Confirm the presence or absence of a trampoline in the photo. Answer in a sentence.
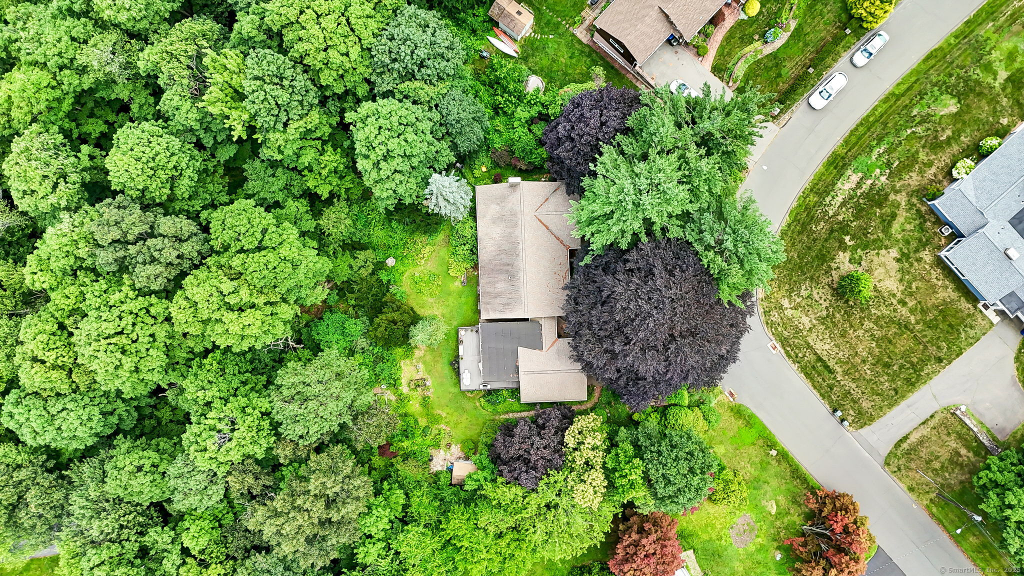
No, no trampoline is visible in the scene.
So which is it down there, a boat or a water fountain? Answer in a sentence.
This aerial view contains a boat.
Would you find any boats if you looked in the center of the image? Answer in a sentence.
No, there's no boat to be seen in the center of the image.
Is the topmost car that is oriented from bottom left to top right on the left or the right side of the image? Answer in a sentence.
The topmost car that is oriented from bottom left to top right is on the right side of the image.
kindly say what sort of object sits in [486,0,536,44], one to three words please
shed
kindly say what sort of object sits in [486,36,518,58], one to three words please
boat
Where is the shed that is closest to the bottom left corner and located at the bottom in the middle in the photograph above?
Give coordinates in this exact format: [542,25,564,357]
[450,459,478,490]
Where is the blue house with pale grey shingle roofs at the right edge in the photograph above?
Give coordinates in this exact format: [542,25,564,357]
[919,119,1024,308]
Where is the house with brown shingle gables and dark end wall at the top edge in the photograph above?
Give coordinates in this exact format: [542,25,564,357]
[593,0,728,72]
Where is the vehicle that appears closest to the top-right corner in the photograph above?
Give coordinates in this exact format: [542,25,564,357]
[847,28,893,72]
